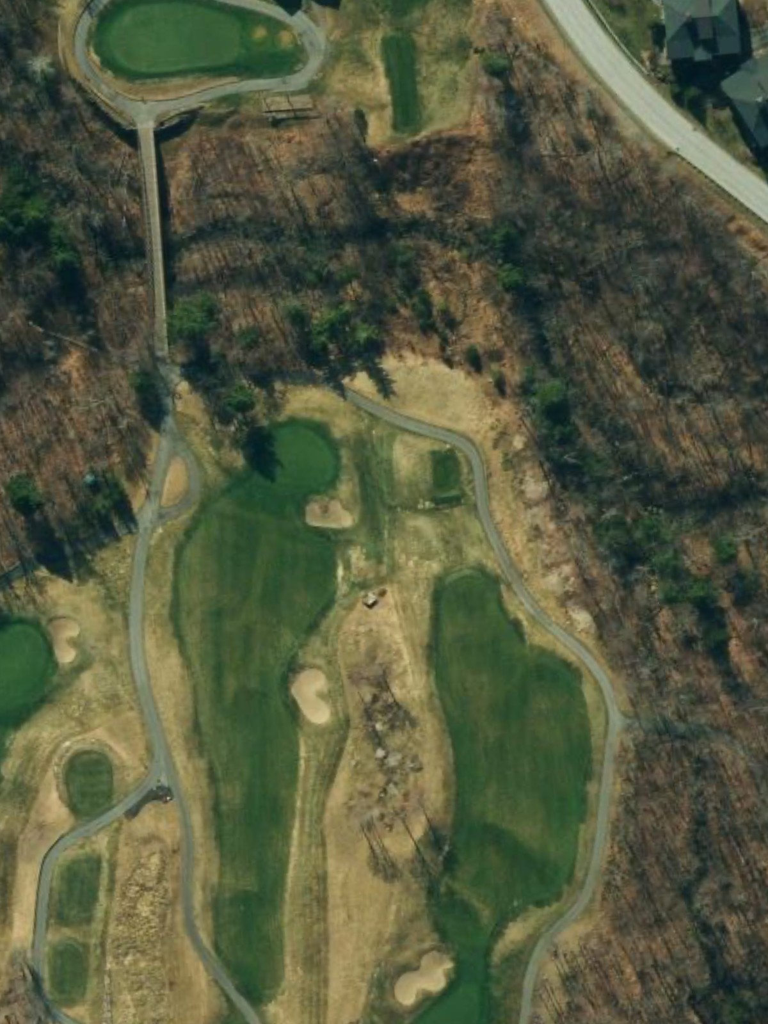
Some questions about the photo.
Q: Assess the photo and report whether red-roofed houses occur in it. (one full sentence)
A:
No, I find no red-roofed house anywhere in the image.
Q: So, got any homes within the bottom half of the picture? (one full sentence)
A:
No, I see no home within the bottom half of the picture.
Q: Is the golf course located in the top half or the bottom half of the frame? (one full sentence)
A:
The golf course sits in the bottom half of the picture.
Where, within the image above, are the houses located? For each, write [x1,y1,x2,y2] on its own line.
[724,72,768,158]
[666,0,743,67]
